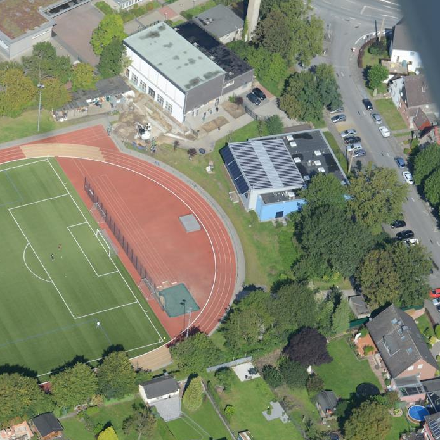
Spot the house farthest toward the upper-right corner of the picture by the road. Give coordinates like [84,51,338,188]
[379,7,418,81]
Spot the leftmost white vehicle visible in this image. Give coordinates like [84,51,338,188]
[133,123,152,137]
